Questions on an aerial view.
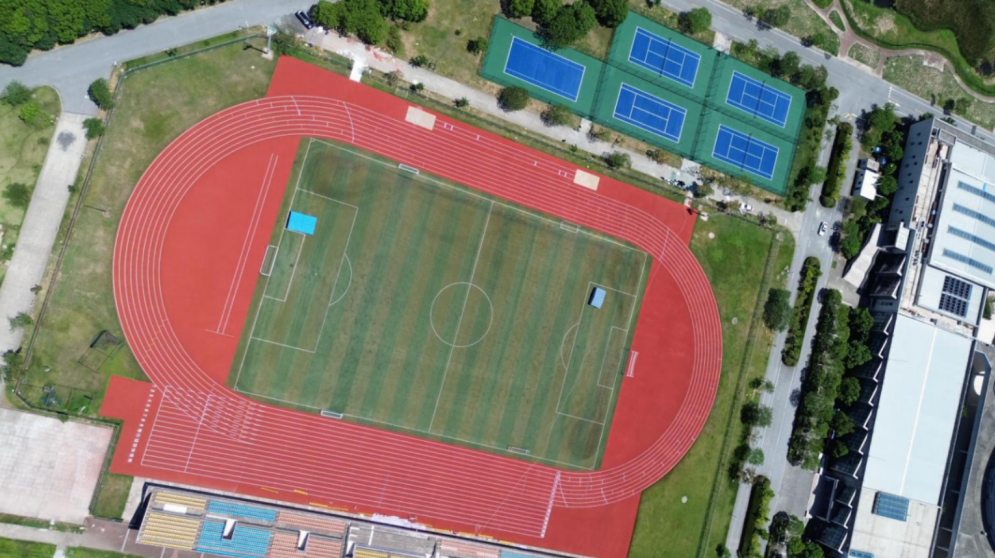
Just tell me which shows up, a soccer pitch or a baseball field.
soccer pitch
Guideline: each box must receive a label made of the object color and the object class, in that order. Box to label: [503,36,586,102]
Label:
blue tennis court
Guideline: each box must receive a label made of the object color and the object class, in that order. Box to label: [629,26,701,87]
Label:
blue tennis court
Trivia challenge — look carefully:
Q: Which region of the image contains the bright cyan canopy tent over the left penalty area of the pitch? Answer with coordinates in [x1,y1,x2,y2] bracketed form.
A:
[287,211,316,234]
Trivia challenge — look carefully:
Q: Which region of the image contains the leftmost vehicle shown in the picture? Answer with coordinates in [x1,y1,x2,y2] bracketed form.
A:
[296,11,313,28]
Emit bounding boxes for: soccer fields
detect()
[226,137,653,471]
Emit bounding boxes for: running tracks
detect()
[98,52,723,558]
